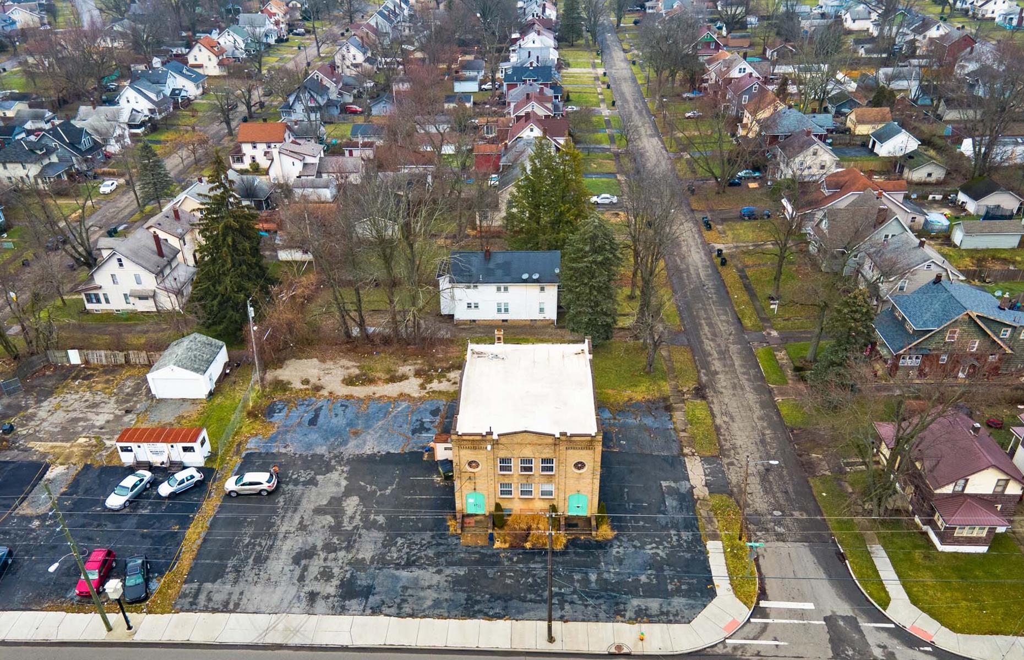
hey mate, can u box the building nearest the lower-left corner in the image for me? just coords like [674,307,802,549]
[146,321,238,395]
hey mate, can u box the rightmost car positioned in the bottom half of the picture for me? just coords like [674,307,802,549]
[221,471,280,499]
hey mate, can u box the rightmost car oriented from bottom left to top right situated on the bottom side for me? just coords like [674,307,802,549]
[155,464,206,501]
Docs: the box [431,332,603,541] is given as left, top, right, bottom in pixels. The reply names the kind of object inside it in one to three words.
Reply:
building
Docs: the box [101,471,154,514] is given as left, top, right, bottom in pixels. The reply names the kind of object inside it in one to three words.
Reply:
car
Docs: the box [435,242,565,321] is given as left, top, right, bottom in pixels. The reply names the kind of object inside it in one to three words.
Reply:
house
